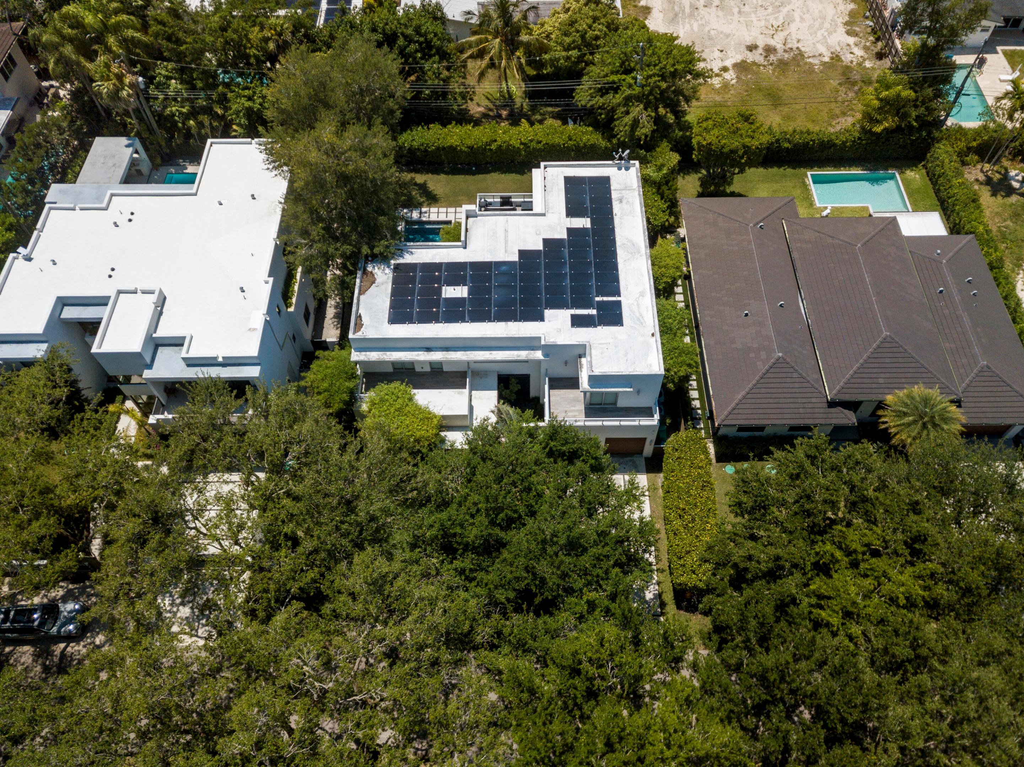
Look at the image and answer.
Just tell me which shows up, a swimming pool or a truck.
swimming pool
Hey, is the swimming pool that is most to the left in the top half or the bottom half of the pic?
top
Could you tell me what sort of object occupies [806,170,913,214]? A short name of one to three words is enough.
swimming pool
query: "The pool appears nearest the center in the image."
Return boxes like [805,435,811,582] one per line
[398,218,451,243]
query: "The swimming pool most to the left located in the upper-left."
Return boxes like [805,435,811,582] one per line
[0,151,70,210]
